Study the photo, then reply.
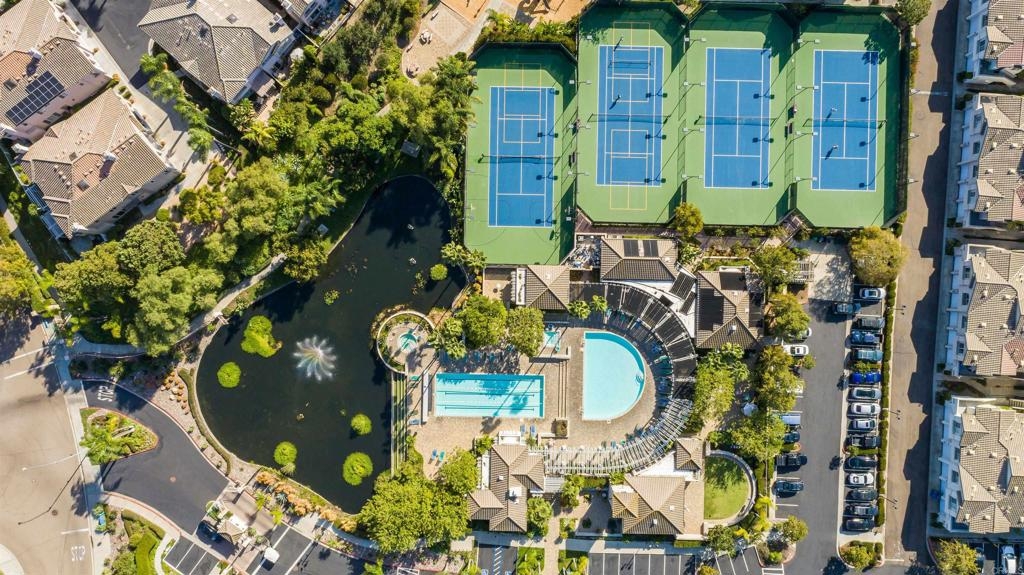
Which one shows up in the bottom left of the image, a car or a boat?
car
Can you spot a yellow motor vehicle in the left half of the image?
No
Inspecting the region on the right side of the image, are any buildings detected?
Yes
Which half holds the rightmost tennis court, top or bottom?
top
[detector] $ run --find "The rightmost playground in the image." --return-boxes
[523,0,585,24]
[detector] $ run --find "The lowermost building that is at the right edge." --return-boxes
[934,395,1024,534]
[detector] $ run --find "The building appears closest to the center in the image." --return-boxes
[526,264,571,311]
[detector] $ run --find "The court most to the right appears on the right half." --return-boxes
[788,21,892,230]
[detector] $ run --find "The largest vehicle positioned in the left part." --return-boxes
[196,517,223,543]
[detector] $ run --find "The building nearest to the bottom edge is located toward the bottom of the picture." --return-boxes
[216,514,250,547]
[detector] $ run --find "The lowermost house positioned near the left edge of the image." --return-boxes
[20,87,177,238]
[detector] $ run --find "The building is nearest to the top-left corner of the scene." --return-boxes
[0,0,108,128]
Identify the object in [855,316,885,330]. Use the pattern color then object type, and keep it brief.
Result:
gray vehicle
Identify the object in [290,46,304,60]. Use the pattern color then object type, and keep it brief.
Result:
white umbrella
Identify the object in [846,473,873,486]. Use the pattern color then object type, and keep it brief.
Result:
white vehicle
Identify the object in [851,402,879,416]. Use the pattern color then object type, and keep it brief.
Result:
white car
